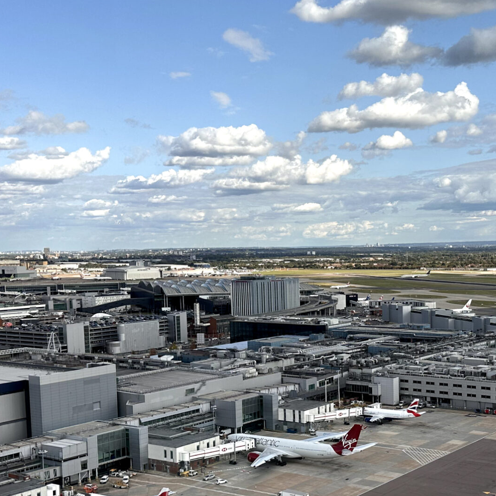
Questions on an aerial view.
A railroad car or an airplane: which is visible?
airplane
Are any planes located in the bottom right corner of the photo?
Yes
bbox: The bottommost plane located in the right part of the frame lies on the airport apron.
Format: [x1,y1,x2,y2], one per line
[219,419,379,466]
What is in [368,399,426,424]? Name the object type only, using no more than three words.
airplane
